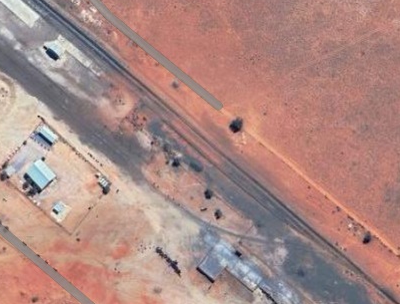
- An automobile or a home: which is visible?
home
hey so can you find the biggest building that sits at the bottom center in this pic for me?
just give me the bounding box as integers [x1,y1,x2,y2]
[199,252,227,281]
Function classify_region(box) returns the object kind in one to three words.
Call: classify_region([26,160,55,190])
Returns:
house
